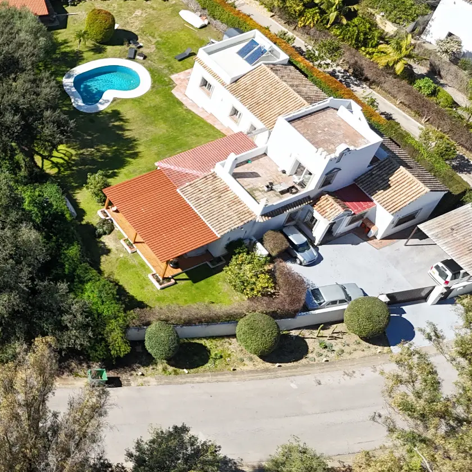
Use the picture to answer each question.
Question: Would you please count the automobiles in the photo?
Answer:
3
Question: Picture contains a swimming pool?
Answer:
Yes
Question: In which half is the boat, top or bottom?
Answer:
top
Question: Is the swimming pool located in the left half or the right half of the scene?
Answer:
left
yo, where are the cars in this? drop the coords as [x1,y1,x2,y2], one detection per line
[303,281,366,316]
[280,221,324,267]
[427,255,470,288]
